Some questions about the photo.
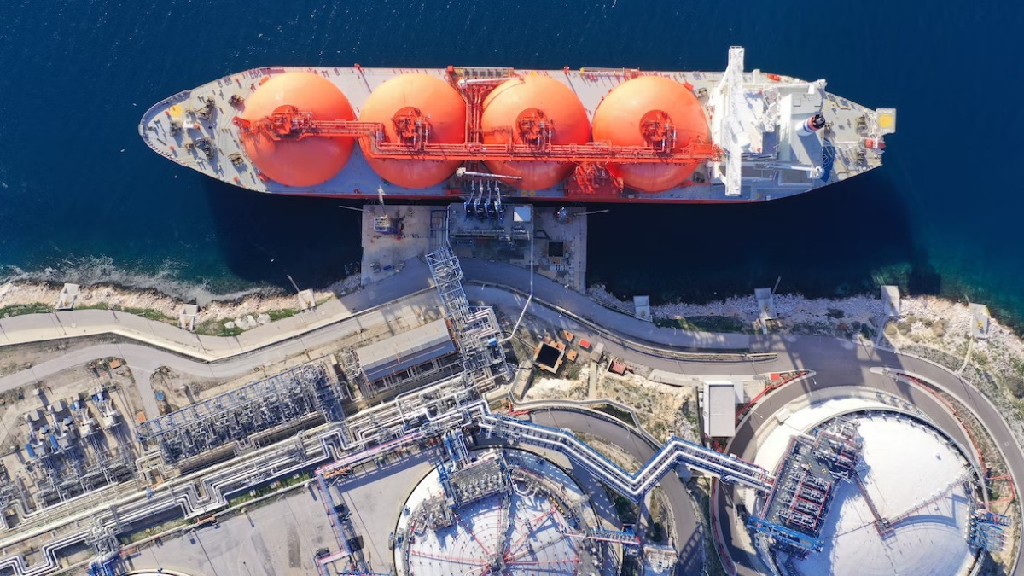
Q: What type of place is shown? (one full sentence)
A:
The area seen from above is an industrial area.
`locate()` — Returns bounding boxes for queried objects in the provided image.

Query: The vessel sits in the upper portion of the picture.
[137,45,896,205]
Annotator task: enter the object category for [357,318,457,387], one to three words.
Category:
shed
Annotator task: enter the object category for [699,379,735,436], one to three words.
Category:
building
